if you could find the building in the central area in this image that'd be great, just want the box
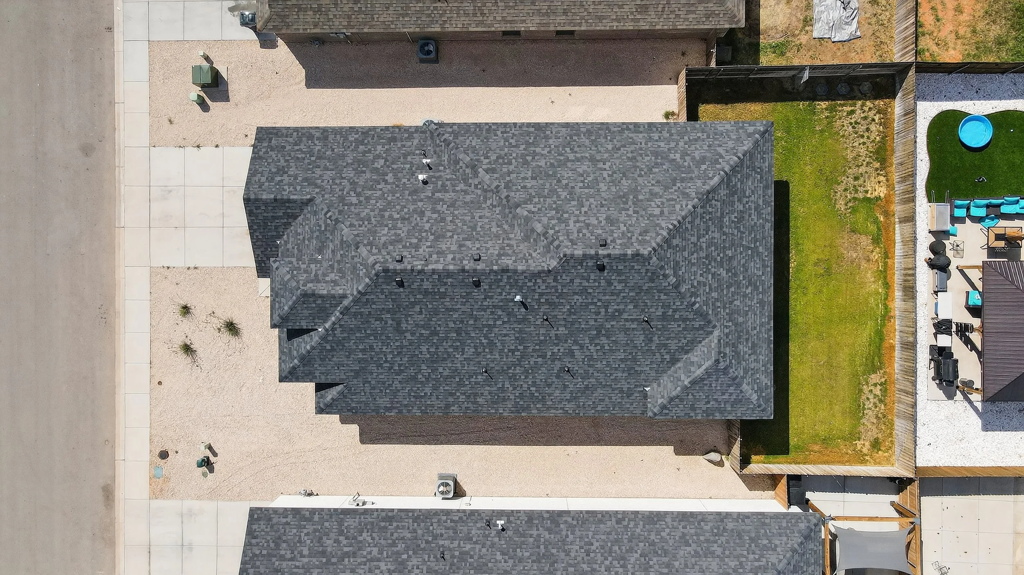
[243,120,774,420]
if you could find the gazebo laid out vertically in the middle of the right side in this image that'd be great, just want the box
[956,260,1024,402]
